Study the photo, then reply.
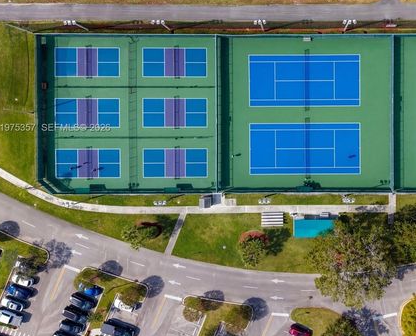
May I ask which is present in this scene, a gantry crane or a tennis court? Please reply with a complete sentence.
Of the two, only a tennis court appears.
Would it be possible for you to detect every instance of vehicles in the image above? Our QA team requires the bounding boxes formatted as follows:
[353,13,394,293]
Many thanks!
[114,296,136,314]
[0,309,23,329]
[80,284,102,296]
[71,292,96,309]
[61,319,85,335]
[290,323,311,336]
[62,306,89,323]
[101,321,133,336]
[1,297,26,314]
[6,284,32,301]
[12,273,36,289]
